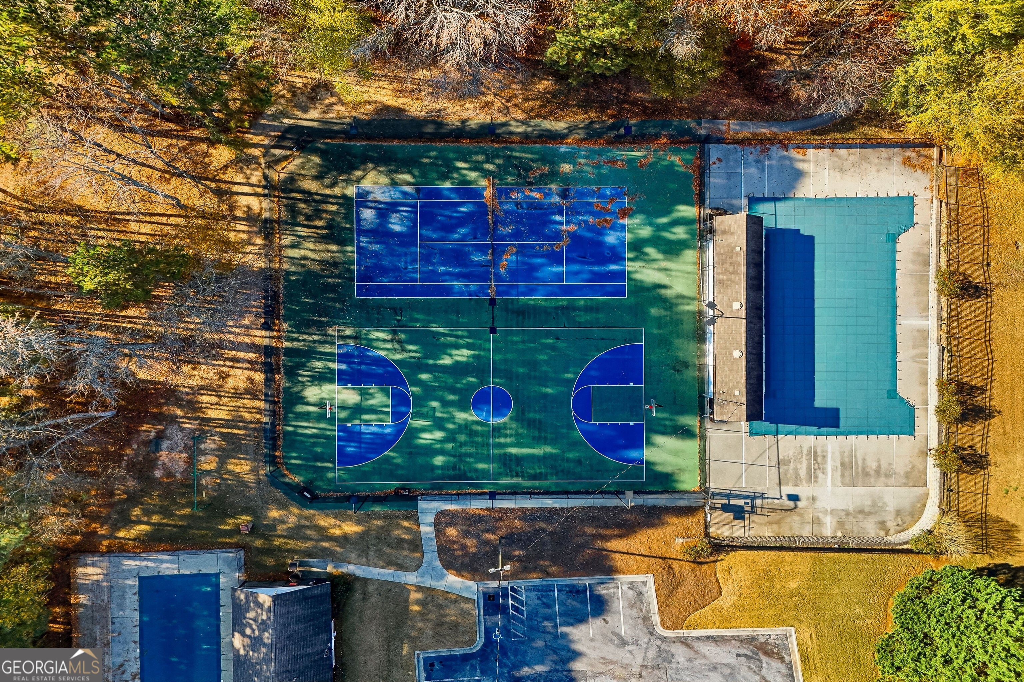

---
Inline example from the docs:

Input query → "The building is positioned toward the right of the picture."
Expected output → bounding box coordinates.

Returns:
[707,214,766,422]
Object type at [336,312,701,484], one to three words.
basketball court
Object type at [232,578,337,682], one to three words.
building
